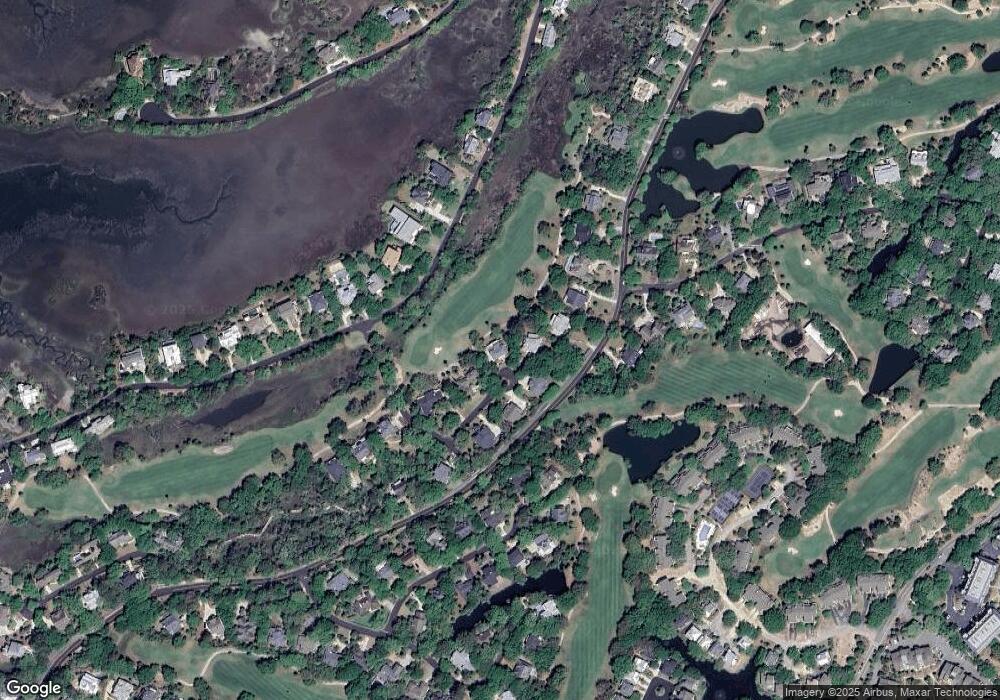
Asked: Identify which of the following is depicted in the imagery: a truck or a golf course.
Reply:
golf course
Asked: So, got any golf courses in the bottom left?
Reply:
Yes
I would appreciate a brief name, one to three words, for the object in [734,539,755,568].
building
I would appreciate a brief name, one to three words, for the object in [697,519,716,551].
swimming pool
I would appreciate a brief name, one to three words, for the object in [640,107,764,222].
pond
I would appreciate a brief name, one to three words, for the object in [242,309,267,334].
house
